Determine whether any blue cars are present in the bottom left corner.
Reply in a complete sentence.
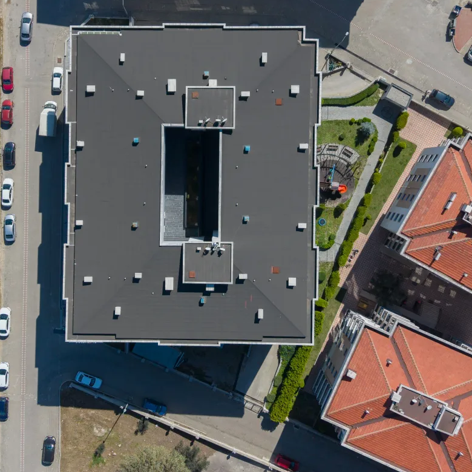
Yes, you'll find a blue car in the bottom left corner.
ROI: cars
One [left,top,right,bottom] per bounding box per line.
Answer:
[41,436,56,465]
[143,399,167,414]
[75,371,102,388]
[3,142,16,167]
[272,454,297,471]
[424,87,454,109]
[2,179,15,206]
[51,67,64,93]
[0,307,11,337]
[0,396,10,421]
[1,67,14,91]
[1,100,14,124]
[0,362,10,389]
[3,214,17,242]
[19,12,34,42]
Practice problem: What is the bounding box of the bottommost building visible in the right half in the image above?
[309,304,472,472]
